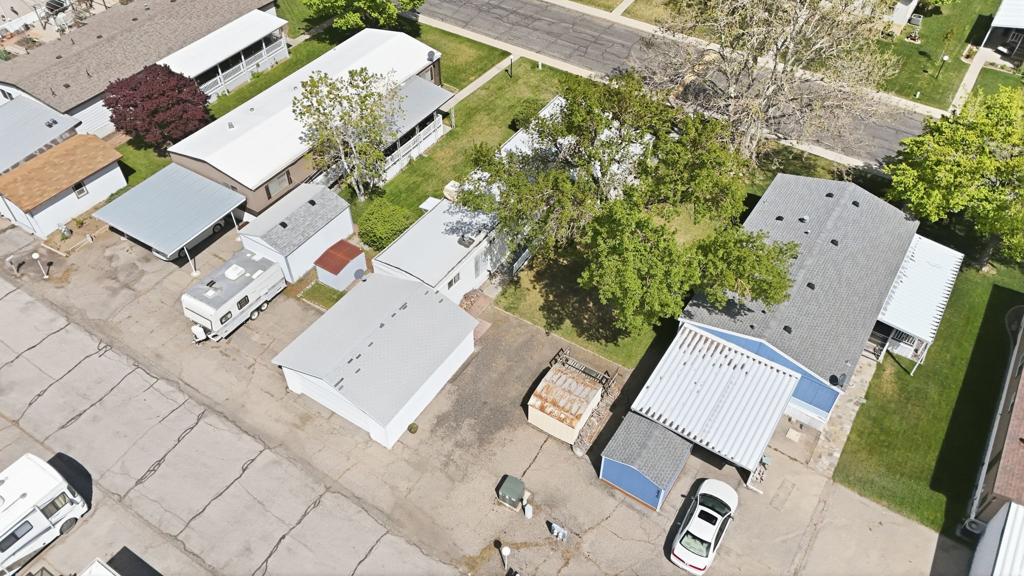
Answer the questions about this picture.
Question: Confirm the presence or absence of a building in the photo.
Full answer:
Yes, this view includes a building.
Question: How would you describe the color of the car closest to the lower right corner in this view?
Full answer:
The car closest to the lower right corner looks white in the image.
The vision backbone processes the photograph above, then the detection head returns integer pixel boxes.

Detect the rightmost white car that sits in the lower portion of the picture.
[673,477,734,576]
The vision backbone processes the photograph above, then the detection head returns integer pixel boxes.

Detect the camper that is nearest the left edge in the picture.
[0,456,90,576]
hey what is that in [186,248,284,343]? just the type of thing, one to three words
trailer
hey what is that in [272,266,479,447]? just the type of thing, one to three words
building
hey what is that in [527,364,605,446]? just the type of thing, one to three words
shed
